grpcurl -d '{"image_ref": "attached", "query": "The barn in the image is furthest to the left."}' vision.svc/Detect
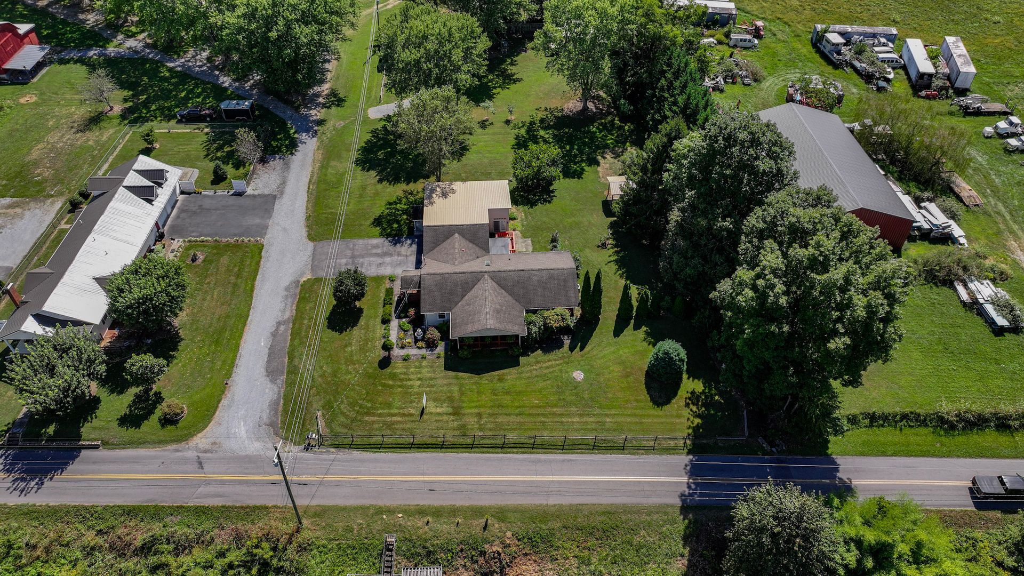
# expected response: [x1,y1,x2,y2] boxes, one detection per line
[0,22,56,95]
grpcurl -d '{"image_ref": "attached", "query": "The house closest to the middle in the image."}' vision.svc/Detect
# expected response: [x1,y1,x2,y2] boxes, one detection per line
[401,180,578,354]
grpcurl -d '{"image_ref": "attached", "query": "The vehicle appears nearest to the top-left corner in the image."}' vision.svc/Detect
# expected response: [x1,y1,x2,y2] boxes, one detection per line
[179,106,220,121]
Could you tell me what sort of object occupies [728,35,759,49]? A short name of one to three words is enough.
vehicle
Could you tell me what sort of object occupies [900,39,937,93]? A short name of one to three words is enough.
trailer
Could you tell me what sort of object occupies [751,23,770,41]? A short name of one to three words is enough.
work vehicle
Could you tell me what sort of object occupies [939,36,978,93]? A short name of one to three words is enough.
trailer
